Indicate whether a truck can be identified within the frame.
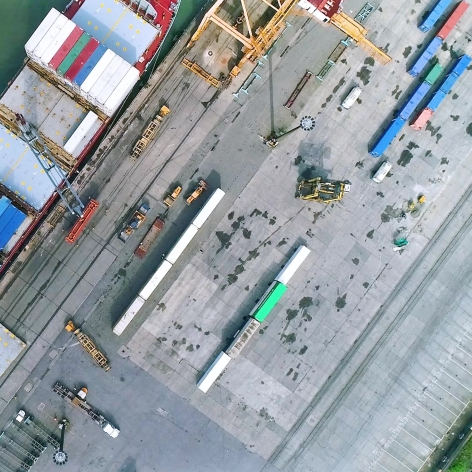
Yes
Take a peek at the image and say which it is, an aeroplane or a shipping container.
shipping container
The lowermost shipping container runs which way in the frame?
at an angle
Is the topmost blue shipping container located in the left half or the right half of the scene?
right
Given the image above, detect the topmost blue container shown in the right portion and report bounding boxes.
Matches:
[416,0,451,34]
